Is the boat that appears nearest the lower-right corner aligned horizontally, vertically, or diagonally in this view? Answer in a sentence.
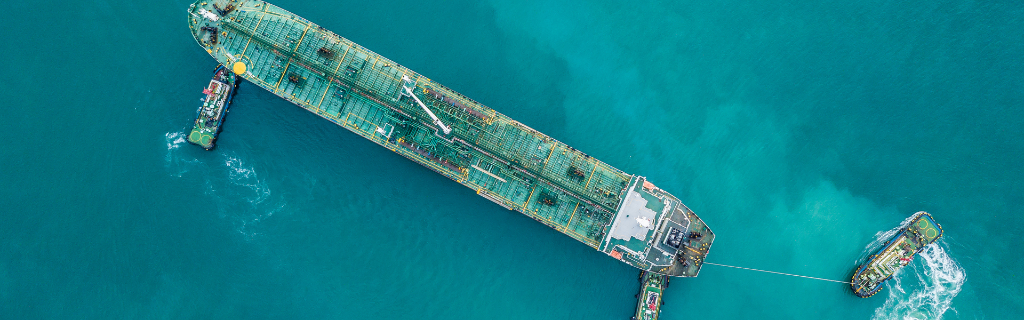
In this picture, the boat that appears nearest the lower-right corner is oriented diagonally.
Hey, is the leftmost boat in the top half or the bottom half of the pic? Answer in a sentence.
It is in the top half that the leftmost boat appears.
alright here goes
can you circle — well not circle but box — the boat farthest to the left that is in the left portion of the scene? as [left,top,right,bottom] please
[186,63,240,150]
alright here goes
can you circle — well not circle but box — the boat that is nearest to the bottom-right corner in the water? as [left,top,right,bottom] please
[852,216,944,301]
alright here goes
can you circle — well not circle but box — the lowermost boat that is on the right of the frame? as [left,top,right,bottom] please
[632,270,669,320]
